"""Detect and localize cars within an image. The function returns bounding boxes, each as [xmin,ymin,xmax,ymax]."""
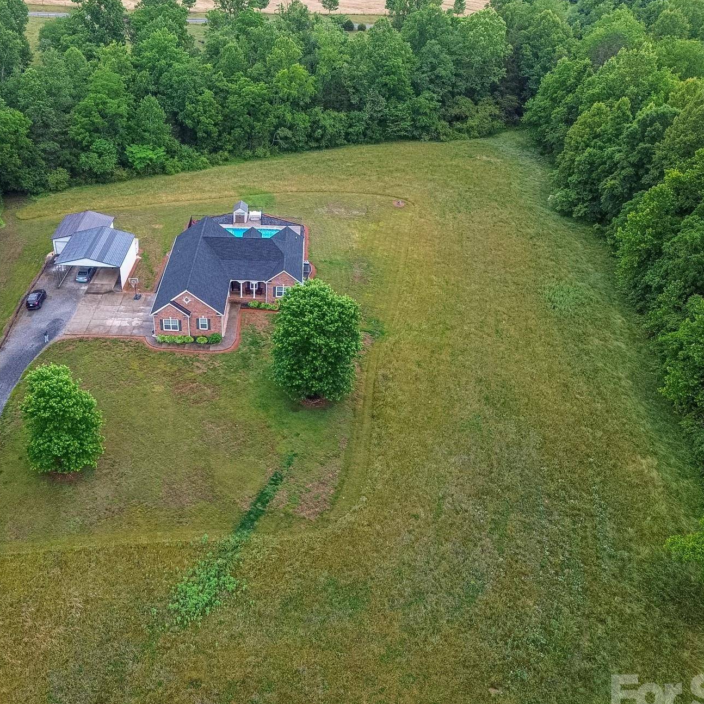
[26,286,50,308]
[75,267,96,281]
